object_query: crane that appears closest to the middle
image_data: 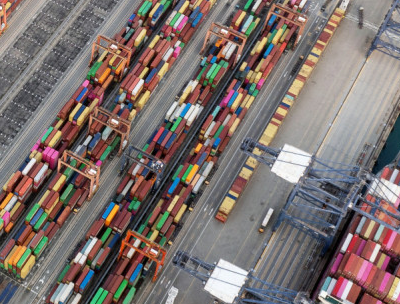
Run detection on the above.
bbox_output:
[117,144,166,195]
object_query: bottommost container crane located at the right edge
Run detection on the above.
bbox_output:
[244,135,400,262]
